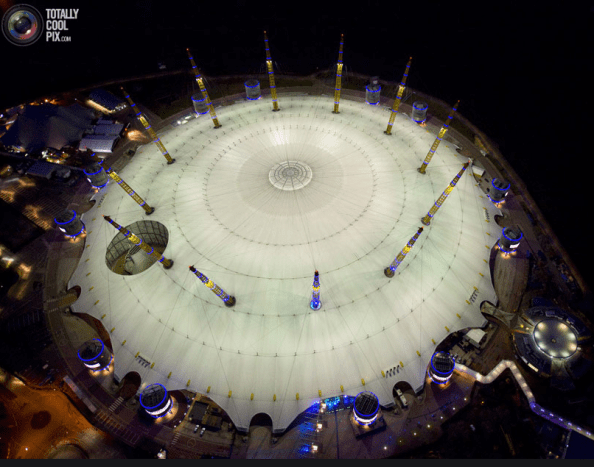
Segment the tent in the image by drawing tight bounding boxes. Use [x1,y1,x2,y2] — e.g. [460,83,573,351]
[0,100,94,164]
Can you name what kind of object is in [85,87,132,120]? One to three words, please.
shed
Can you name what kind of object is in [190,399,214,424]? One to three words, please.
building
